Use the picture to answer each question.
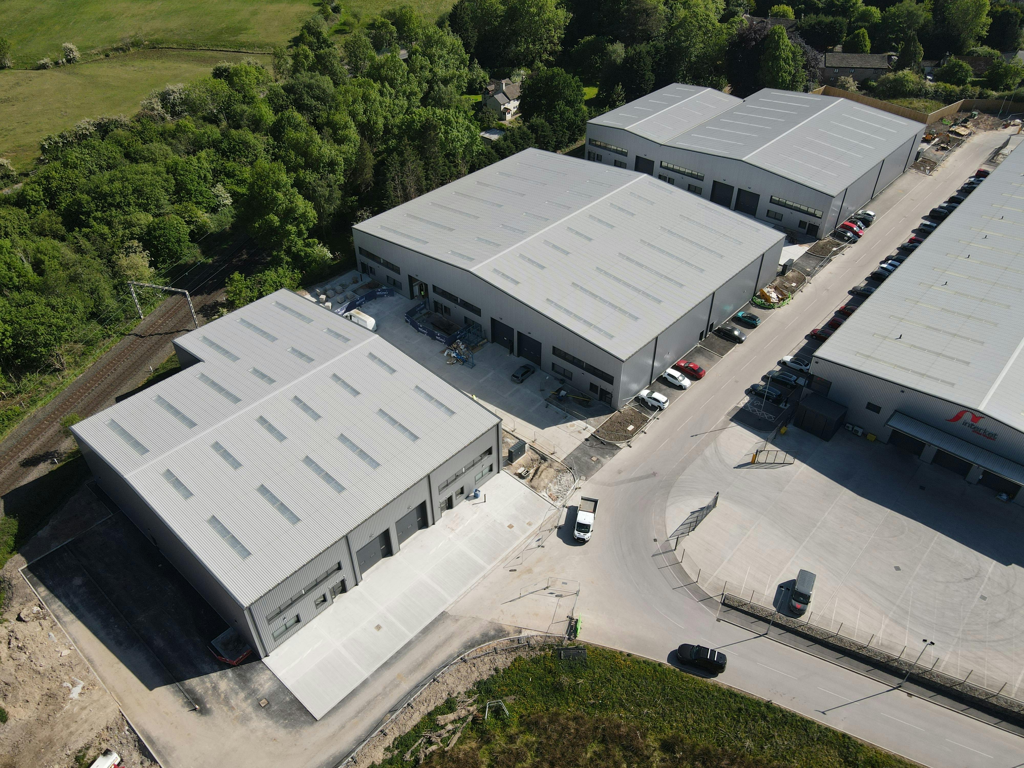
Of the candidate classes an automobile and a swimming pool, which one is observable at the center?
automobile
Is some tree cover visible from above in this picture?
Yes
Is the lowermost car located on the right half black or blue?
black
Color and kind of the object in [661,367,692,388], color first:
white car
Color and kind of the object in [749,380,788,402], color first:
black car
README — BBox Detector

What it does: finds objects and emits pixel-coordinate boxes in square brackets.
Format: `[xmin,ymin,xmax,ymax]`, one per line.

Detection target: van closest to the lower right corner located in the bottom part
[787,566,817,616]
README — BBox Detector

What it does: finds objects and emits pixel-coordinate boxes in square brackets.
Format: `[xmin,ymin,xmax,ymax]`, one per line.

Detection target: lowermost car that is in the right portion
[676,647,729,680]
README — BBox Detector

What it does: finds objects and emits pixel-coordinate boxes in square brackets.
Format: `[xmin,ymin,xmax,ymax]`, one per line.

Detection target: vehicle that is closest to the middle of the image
[509,365,535,385]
